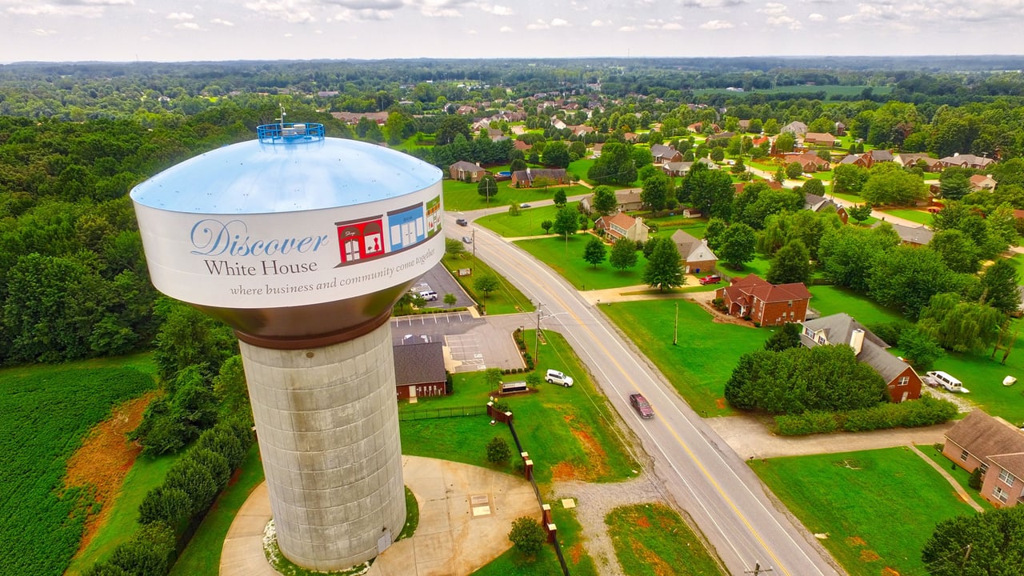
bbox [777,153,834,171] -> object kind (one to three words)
house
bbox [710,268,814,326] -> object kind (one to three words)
house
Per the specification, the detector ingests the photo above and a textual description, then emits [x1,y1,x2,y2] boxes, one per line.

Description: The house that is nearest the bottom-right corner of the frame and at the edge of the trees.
[940,403,1024,512]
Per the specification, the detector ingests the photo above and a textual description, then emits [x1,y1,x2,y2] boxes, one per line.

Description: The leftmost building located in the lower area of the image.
[395,329,450,400]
